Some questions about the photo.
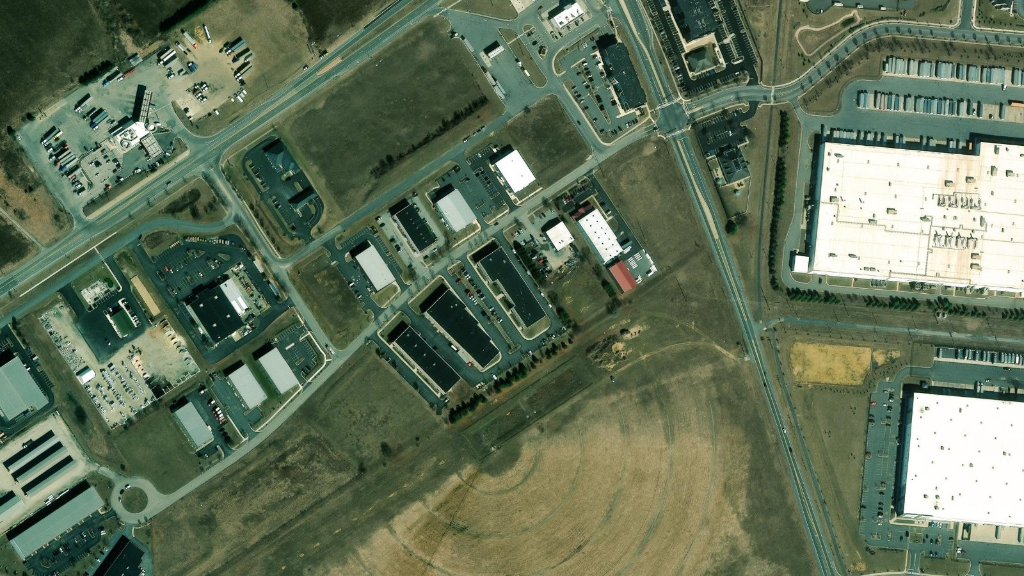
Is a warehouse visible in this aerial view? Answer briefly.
Yes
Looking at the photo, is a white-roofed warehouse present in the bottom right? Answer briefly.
Yes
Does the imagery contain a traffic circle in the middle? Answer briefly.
No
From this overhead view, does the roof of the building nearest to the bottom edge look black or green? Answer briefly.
black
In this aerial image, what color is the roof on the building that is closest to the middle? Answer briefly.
black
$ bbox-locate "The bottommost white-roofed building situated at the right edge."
[899,392,1024,527]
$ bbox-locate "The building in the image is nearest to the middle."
[476,247,547,330]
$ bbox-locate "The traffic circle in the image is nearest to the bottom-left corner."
[111,476,158,523]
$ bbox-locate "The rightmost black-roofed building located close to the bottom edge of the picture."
[103,542,145,576]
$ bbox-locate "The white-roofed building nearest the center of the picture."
[544,221,574,252]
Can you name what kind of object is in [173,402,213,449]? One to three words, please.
building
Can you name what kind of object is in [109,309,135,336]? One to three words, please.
shed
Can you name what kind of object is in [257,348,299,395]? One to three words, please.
building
